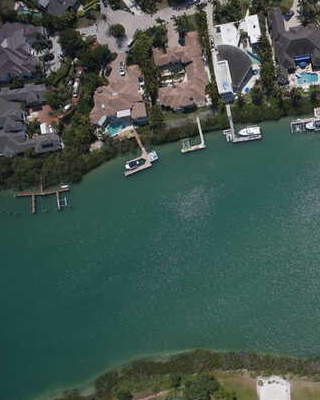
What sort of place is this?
residential area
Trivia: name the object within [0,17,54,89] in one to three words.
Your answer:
house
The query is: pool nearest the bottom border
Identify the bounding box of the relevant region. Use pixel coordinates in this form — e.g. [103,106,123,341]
[107,121,125,135]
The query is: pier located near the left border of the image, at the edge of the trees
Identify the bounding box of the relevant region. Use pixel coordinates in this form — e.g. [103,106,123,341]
[16,171,72,214]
